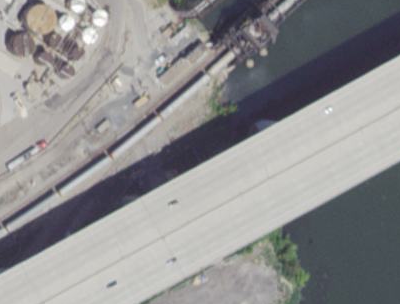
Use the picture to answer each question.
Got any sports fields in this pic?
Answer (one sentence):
No, there appears to be no sports field in this shot.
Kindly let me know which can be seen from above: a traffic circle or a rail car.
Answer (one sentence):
Visible in the photo is a rail car.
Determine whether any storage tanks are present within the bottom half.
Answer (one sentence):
No, I can find no storage tank within the bottom half.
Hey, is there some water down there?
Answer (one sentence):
Yes, water can be seen from above here.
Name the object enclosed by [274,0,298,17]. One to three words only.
rail car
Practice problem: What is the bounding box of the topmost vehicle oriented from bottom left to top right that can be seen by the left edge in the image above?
[6,144,46,170]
